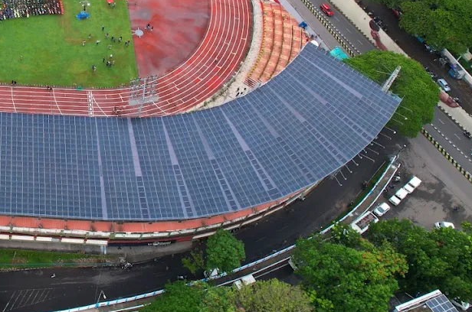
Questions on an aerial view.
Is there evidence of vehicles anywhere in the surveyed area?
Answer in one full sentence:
Yes, looking at the shot, I can spot a vehicle.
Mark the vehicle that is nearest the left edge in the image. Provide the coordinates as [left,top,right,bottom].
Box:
[318,1,336,15]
